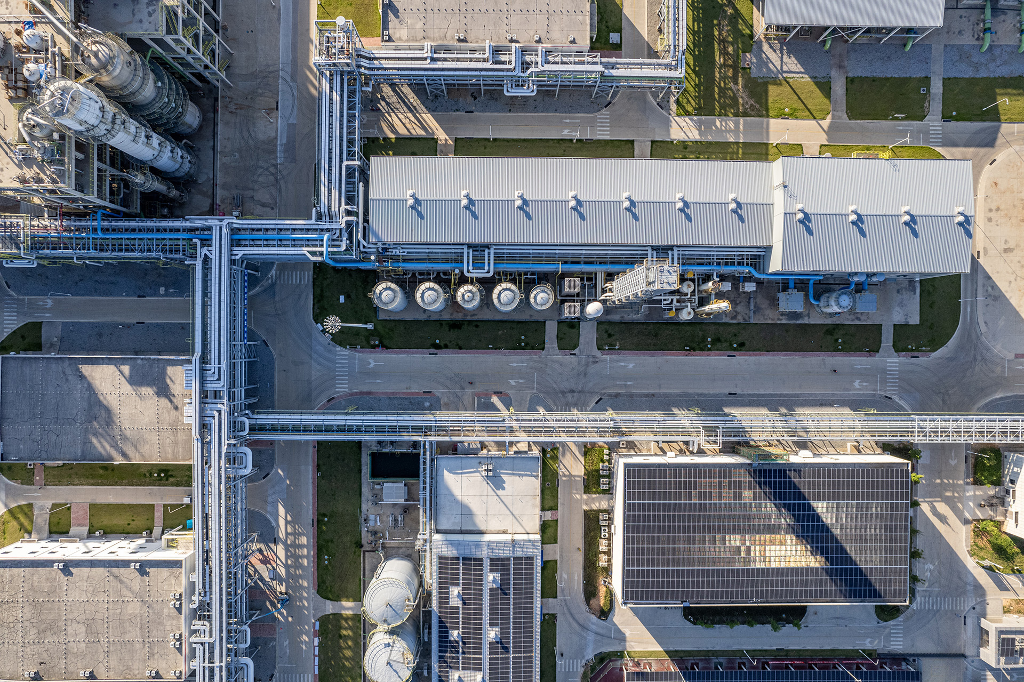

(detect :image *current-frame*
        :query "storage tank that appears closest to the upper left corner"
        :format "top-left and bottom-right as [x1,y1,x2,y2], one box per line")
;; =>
[365,280,410,311]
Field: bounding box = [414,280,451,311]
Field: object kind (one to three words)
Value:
storage tank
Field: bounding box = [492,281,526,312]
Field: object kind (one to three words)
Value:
storage tank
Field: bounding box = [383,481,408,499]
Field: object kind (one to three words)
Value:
shed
